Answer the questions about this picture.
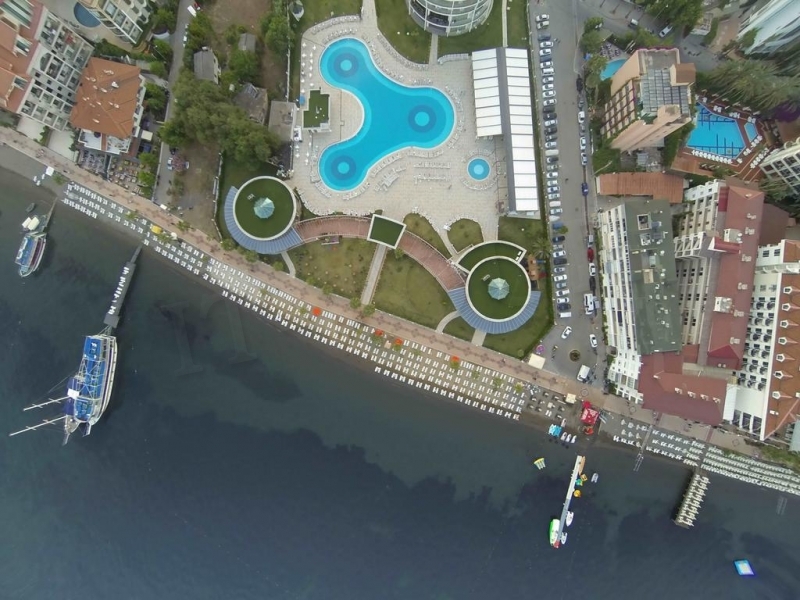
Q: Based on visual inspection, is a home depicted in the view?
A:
Yes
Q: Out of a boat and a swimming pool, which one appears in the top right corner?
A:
swimming pool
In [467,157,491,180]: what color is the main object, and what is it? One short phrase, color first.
blue swimming pool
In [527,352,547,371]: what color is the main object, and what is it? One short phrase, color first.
white umbrella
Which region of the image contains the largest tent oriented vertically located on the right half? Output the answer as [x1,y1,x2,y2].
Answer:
[505,48,538,216]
